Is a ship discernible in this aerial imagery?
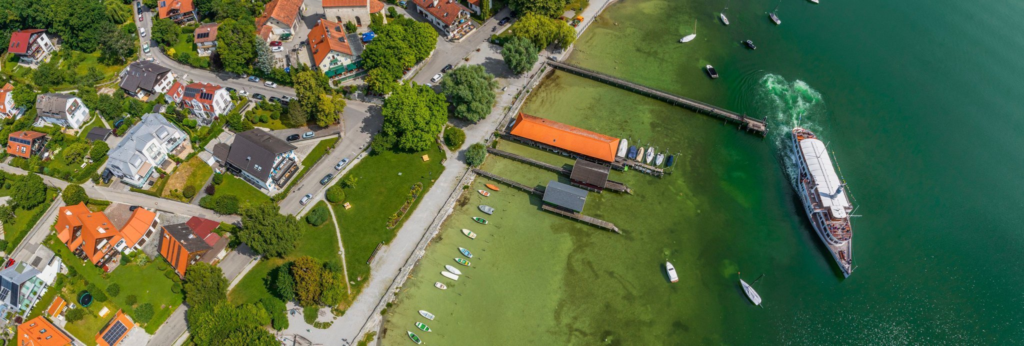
Yes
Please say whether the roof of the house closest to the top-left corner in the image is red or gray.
red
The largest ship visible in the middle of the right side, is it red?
No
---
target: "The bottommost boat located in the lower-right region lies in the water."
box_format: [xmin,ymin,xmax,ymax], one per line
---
[740,274,762,306]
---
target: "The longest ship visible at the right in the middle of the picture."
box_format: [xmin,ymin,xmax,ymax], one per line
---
[789,118,856,278]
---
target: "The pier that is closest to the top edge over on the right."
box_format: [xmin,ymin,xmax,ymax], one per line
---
[546,57,743,123]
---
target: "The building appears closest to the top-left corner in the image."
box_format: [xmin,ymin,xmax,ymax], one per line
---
[5,28,53,65]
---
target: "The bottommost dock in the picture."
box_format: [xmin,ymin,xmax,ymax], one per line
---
[541,204,621,233]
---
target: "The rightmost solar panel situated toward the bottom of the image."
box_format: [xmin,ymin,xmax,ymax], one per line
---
[99,319,133,346]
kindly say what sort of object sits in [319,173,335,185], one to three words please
vehicle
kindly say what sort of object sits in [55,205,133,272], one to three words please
house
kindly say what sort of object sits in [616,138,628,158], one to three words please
boat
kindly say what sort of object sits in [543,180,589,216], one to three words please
building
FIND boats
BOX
[483,183,500,192]
[666,261,679,284]
[706,65,720,80]
[458,226,477,240]
[740,274,762,306]
[419,310,435,321]
[667,155,674,167]
[656,151,664,166]
[646,146,656,164]
[471,216,488,225]
[478,205,495,215]
[415,321,432,332]
[449,256,471,267]
[679,19,696,43]
[459,247,474,259]
[743,39,757,51]
[637,147,644,162]
[435,282,448,291]
[435,269,459,282]
[627,145,637,160]
[769,0,783,25]
[406,330,422,345]
[720,1,731,26]
[445,264,463,275]
[616,138,628,158]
